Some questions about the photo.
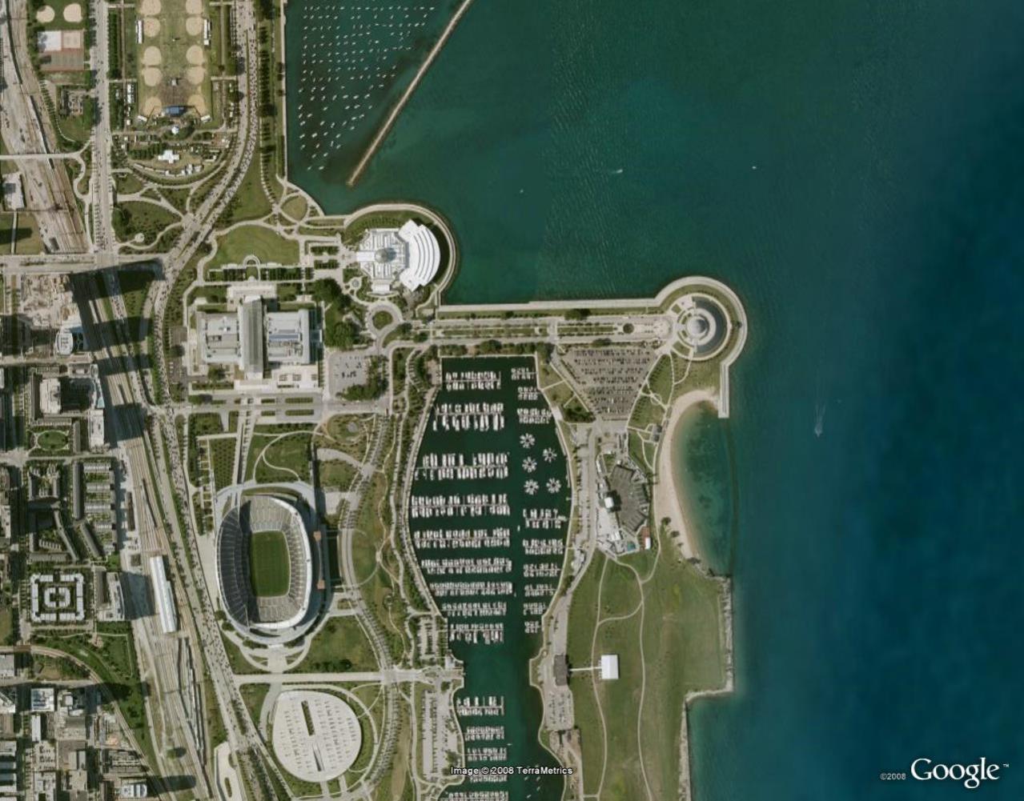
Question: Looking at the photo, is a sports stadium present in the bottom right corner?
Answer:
No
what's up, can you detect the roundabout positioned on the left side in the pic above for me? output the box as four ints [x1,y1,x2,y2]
[367,300,403,349]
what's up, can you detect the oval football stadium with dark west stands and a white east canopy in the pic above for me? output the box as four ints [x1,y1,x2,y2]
[215,493,311,631]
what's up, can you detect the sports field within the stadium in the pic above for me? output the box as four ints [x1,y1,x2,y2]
[251,532,289,598]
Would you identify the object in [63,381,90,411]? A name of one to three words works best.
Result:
building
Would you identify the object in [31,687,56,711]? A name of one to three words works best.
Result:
building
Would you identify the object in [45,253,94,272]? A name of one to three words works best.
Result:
bridge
